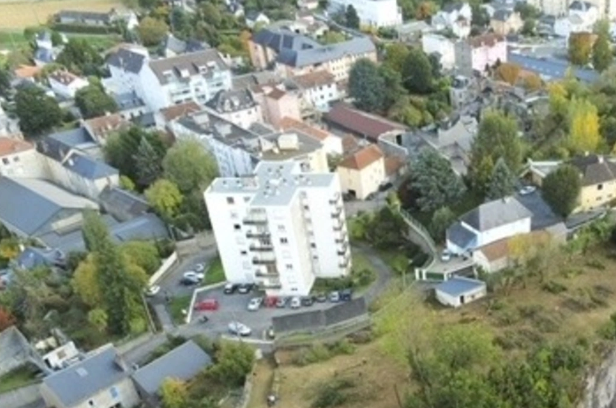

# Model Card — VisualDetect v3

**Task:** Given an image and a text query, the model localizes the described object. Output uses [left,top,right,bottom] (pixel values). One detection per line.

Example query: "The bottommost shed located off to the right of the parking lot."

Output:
[436,275,480,311]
